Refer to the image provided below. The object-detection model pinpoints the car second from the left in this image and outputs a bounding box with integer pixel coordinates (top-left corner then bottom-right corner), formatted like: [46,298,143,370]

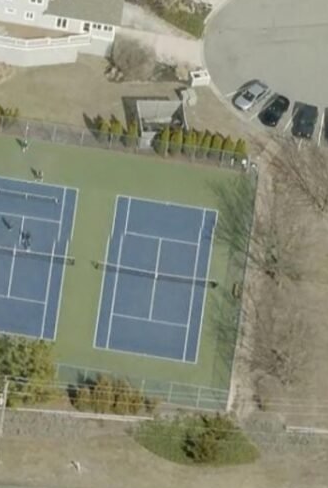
[261,96,294,127]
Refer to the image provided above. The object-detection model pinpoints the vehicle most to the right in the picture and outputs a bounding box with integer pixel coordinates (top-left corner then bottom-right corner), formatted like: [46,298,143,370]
[294,102,319,140]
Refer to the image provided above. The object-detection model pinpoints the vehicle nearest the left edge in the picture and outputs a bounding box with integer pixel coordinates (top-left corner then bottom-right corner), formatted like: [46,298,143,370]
[235,84,271,112]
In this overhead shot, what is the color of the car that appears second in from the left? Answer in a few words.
black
